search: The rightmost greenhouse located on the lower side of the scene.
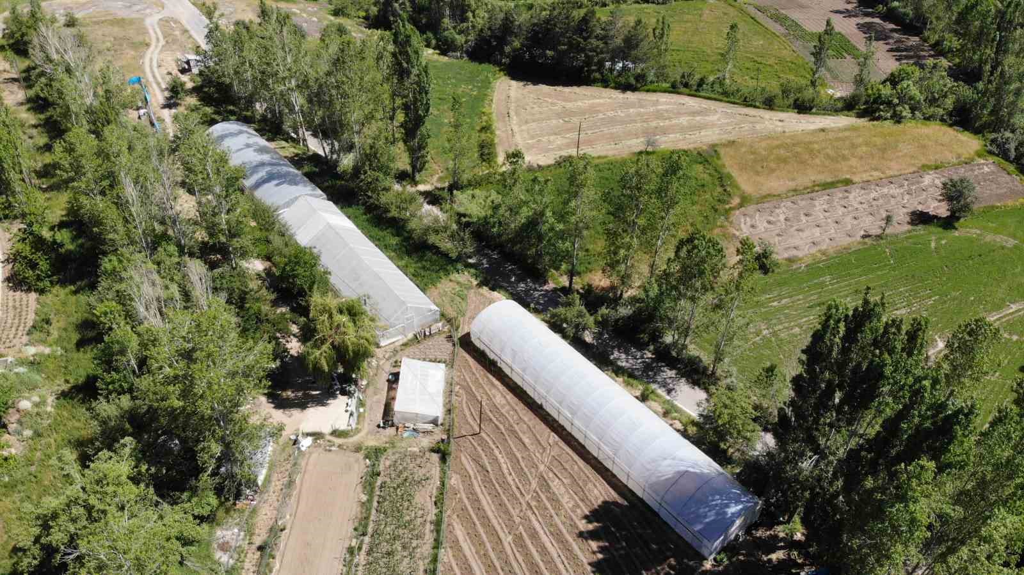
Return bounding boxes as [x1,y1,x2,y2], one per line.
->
[472,299,756,559]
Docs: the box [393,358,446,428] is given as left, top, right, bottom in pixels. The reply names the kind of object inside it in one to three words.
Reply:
greenhouse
